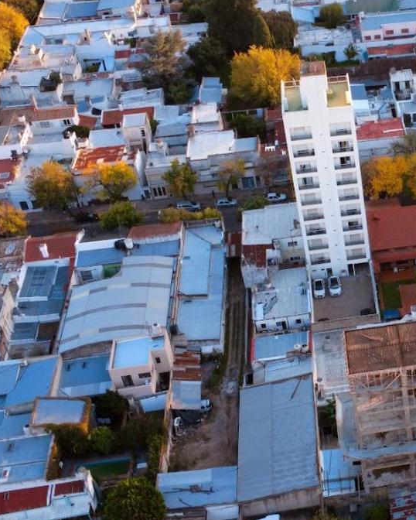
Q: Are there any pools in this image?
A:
Yes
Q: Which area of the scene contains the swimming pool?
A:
bottom left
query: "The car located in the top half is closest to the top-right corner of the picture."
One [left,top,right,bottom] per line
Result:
[260,188,287,202]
